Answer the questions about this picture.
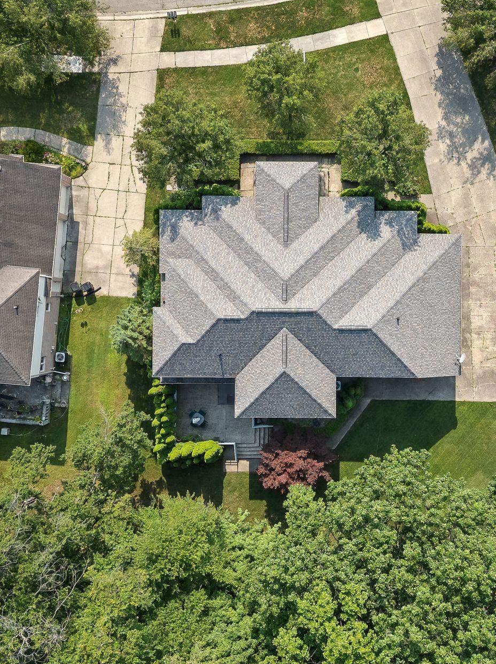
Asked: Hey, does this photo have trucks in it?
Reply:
No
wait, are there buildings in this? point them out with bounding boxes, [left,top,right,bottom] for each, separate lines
[0,152,72,386]
[152,160,466,419]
